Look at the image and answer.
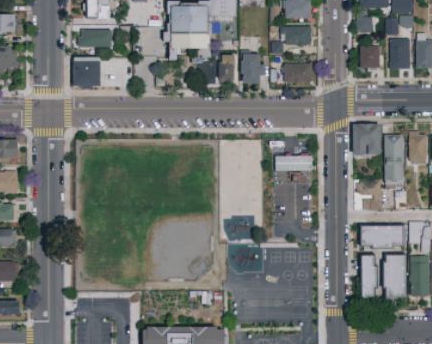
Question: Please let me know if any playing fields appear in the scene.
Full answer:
Yes, there is a playing field in the image.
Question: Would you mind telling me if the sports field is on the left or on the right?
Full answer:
The sports field is on the left side of the image.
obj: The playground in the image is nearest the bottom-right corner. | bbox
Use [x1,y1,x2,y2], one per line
[228,244,263,273]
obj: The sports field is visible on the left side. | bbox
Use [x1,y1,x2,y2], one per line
[78,144,216,287]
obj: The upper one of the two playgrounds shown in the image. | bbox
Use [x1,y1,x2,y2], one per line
[224,216,254,240]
